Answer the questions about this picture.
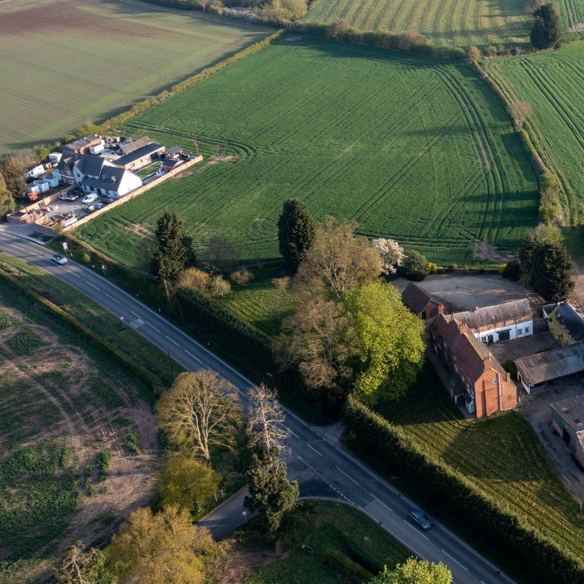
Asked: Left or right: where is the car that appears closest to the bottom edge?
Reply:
right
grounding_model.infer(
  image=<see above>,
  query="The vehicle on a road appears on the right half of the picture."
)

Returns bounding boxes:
[408,506,433,530]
